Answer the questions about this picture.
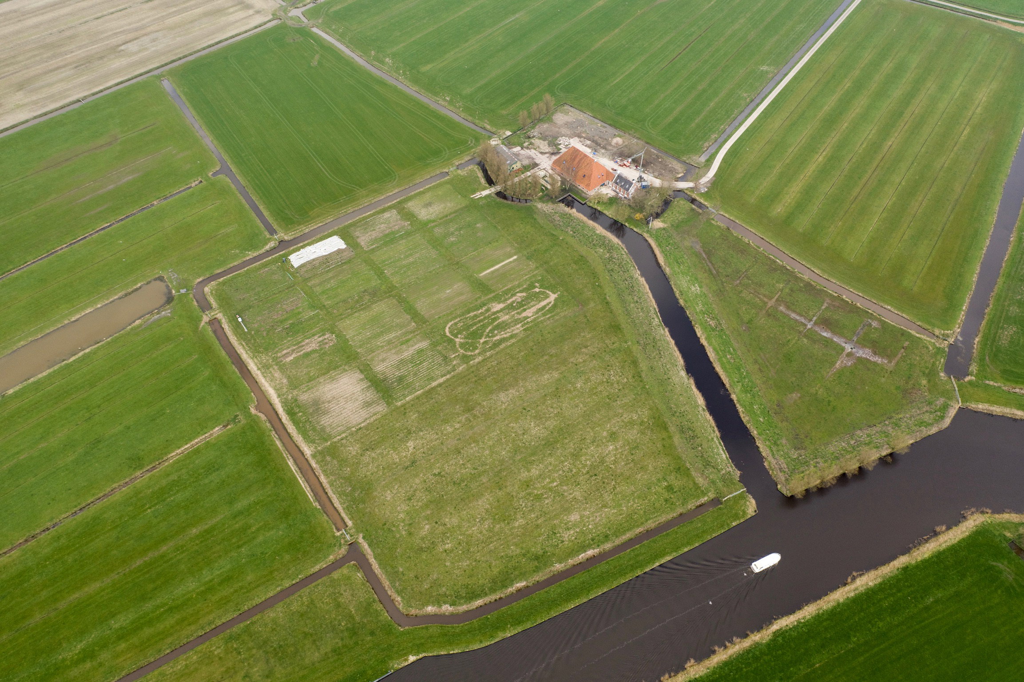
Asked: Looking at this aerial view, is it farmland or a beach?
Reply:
farmland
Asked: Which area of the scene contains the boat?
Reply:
bottom right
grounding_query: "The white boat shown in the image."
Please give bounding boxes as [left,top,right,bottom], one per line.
[751,552,779,572]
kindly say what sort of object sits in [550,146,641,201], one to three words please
house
